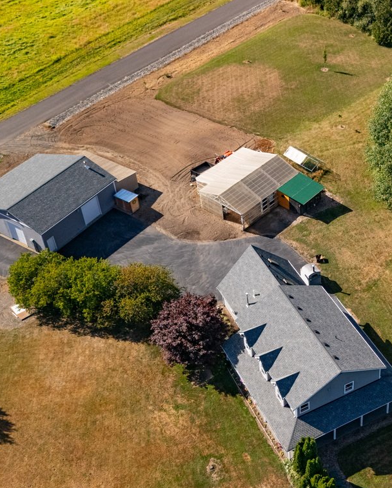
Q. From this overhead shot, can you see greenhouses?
Yes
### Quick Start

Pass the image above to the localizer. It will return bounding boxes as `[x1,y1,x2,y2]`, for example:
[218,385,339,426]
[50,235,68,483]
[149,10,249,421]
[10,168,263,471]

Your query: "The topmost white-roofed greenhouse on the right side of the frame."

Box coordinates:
[192,149,300,231]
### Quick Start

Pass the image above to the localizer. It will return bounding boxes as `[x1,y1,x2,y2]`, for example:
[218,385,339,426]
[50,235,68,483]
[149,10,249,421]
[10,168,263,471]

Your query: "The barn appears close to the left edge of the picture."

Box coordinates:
[0,154,119,258]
